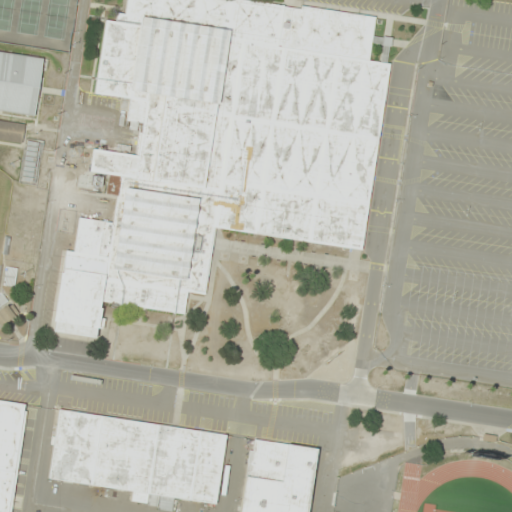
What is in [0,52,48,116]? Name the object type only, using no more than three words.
building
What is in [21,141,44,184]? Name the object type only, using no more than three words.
shed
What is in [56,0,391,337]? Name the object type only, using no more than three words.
building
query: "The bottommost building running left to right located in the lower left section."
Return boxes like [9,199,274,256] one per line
[49,410,228,512]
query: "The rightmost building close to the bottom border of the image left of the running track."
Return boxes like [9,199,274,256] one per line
[242,438,321,512]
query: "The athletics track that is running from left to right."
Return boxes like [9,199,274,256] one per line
[398,460,512,512]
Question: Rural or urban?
urban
